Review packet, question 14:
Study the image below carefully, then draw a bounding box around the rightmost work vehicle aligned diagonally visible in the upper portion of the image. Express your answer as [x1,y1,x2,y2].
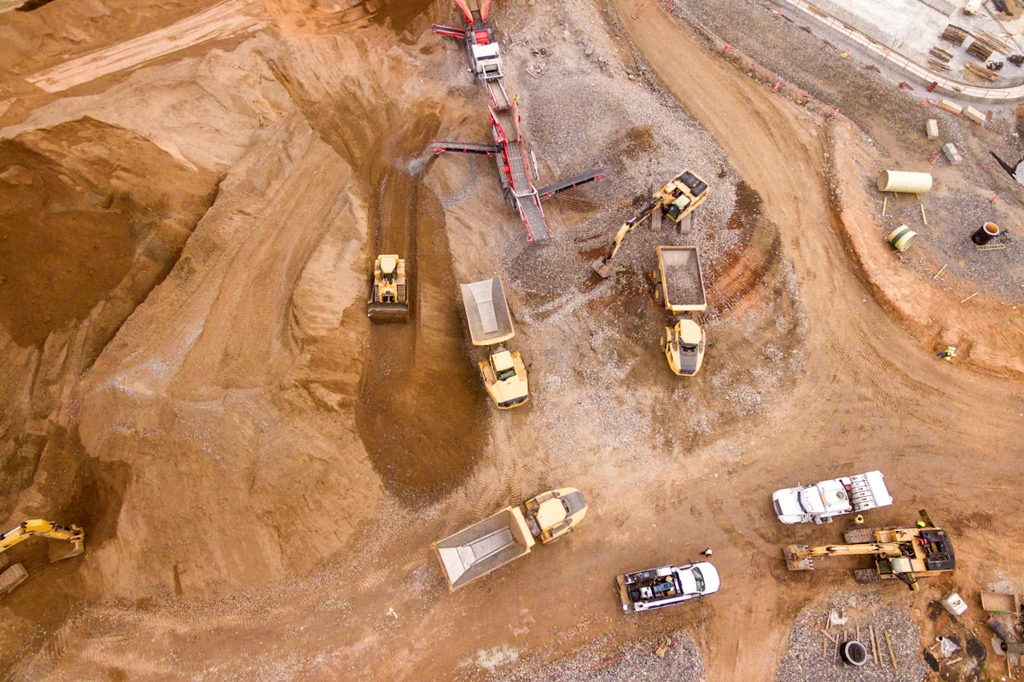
[589,171,710,275]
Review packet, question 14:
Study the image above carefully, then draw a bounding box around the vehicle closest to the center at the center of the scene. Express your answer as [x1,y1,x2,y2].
[464,273,533,411]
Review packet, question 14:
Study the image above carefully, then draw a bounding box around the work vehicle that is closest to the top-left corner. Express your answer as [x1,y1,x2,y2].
[363,254,413,324]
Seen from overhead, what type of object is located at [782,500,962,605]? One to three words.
work vehicle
